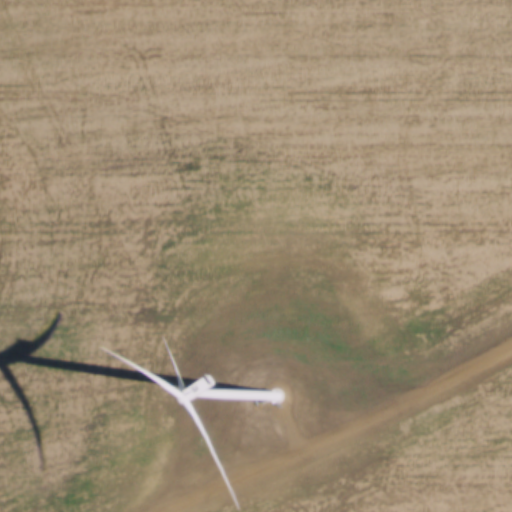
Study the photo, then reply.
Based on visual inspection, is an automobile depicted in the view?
No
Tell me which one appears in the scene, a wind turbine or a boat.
wind turbine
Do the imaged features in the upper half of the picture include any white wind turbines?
No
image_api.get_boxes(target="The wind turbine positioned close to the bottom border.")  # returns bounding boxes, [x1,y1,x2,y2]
[102,336,285,508]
